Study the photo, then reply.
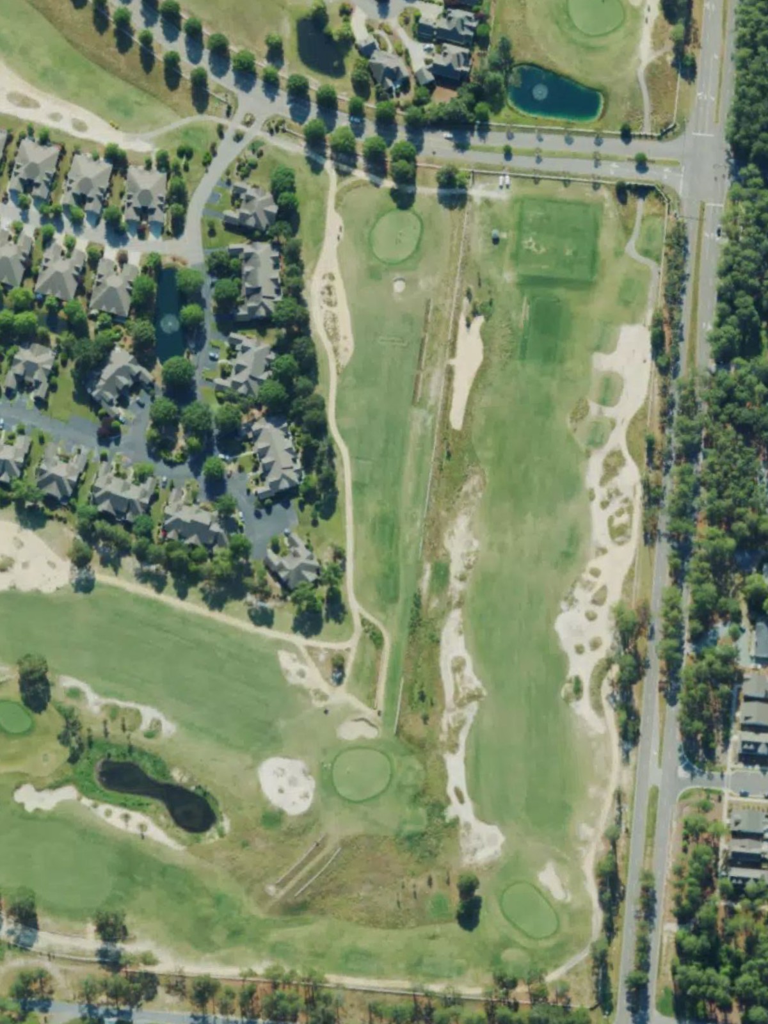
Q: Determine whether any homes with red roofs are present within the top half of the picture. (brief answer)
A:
No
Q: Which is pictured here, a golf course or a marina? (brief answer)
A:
golf course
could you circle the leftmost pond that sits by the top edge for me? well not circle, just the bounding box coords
[295,15,352,79]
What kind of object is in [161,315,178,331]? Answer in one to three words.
fountain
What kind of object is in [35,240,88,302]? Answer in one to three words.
house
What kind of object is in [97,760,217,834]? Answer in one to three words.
pond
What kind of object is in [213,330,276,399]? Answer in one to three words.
house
